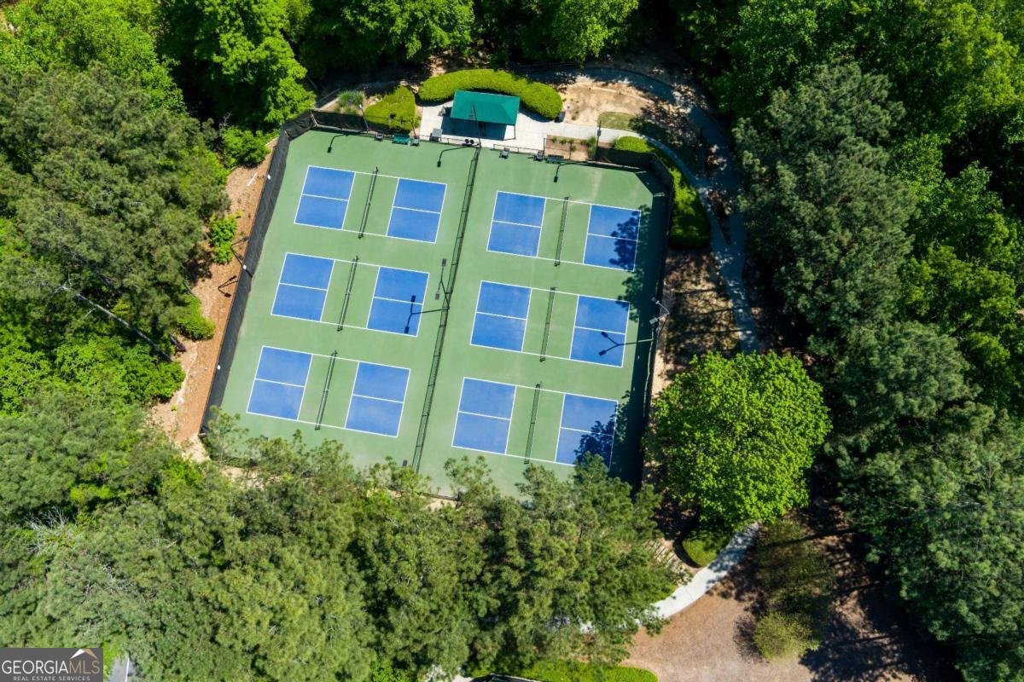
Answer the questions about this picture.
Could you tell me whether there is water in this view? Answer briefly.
No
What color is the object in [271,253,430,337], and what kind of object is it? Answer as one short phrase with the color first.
blue sports court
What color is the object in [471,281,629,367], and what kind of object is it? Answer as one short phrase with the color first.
blue sports court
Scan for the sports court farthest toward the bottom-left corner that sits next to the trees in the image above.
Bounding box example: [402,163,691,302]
[245,346,411,437]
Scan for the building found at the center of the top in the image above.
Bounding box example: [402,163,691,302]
[449,89,520,141]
